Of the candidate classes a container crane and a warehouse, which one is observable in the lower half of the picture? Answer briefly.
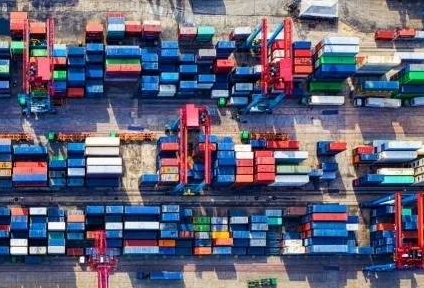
container crane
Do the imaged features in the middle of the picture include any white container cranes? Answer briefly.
No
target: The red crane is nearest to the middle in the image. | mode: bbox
[164,103,212,195]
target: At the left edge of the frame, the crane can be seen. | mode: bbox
[19,18,58,112]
